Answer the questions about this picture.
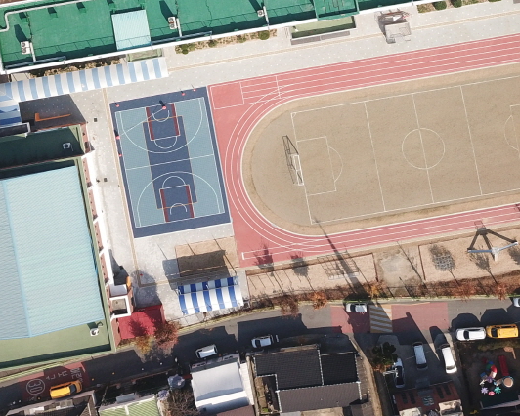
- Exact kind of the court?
basketball court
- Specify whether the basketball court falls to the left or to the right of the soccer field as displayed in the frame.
to the left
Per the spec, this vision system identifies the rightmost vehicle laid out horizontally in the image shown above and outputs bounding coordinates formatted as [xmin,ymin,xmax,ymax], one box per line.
[487,324,518,338]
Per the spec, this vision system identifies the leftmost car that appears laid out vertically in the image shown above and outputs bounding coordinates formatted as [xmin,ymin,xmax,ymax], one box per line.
[393,361,405,387]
